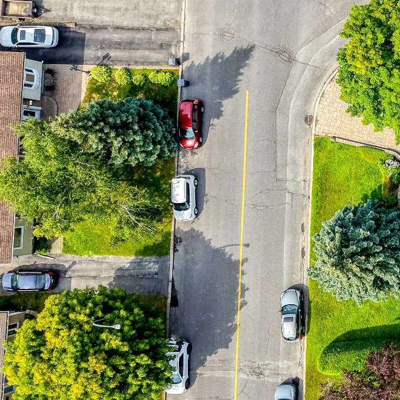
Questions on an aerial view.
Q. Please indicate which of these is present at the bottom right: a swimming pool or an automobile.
automobile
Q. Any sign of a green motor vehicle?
No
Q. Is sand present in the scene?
No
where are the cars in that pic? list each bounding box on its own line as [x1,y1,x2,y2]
[274,383,301,400]
[0,267,57,295]
[0,22,60,49]
[176,100,205,149]
[160,340,194,394]
[276,289,307,341]
[168,175,201,220]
